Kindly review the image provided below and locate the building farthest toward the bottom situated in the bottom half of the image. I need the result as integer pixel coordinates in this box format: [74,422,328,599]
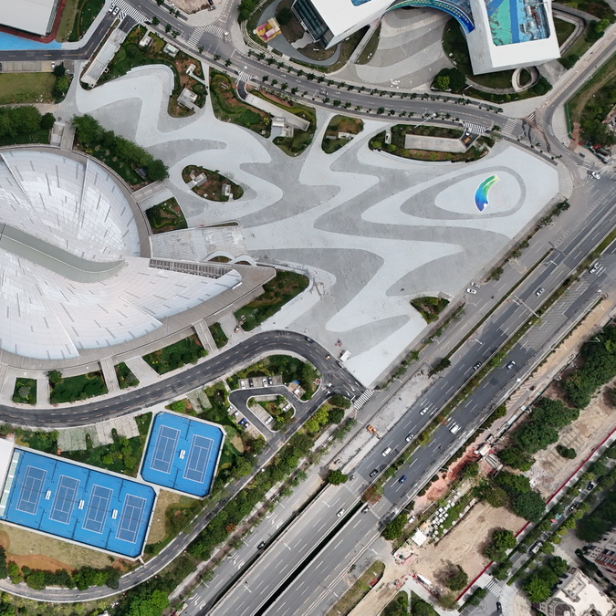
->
[516,557,616,616]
